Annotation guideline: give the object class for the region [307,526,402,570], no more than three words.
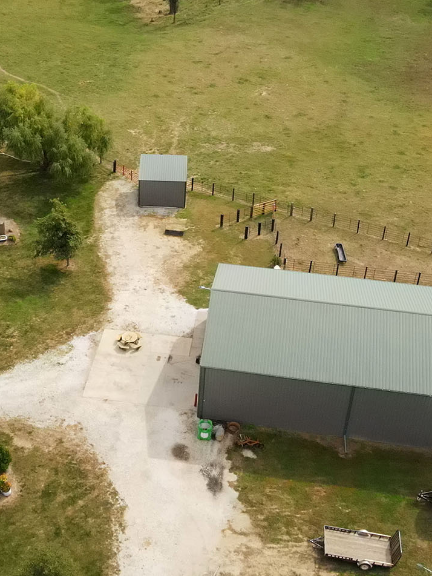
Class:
trailer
